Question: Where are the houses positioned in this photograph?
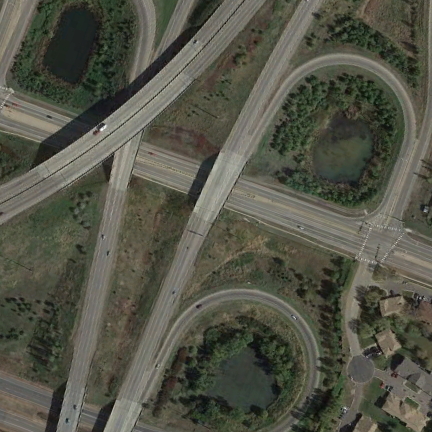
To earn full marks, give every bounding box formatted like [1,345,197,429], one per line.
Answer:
[380,296,407,315]
[347,414,378,432]
[376,330,403,356]
[416,299,432,324]
[382,391,430,431]
[390,353,432,399]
